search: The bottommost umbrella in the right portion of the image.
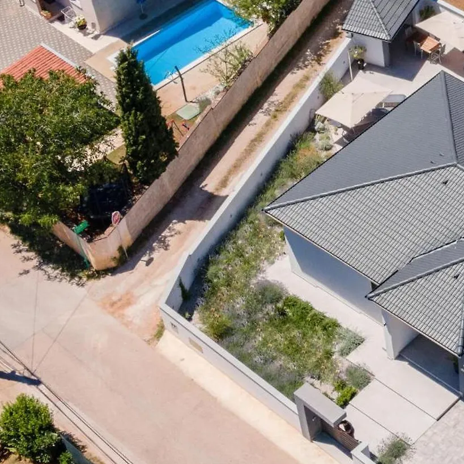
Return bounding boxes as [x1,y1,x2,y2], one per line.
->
[316,50,397,128]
